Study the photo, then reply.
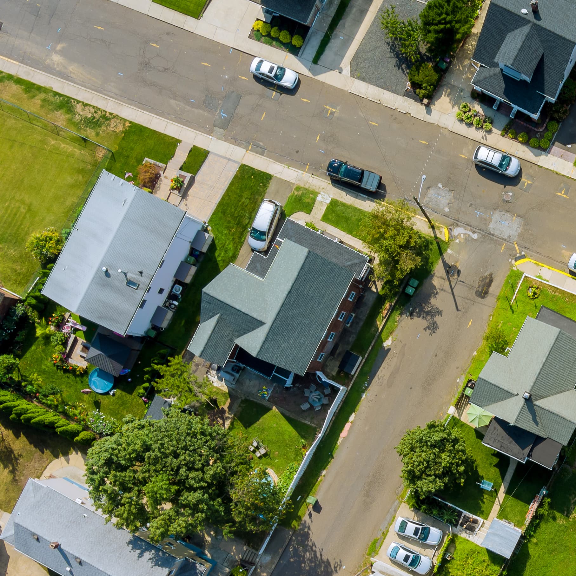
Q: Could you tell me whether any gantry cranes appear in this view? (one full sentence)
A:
No, the scene contains no gantry crane.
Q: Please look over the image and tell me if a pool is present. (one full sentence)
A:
Yes, the photo shows a pool.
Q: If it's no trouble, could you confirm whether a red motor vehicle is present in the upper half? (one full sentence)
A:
No, there's no red motor vehicle to be seen in the upper half.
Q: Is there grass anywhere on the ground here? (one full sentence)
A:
Yes, the picture does contain grass.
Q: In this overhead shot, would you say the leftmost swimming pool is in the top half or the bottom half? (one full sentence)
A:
The leftmost swimming pool is in the bottom half of the image.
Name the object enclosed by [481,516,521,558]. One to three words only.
shed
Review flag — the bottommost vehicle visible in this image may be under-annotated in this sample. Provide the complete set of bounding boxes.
[384,540,434,572]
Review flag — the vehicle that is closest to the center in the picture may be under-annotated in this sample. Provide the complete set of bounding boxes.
[246,196,284,251]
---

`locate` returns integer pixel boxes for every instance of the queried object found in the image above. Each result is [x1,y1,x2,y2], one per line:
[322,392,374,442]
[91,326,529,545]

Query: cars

[471,145,521,179]
[246,196,284,251]
[384,540,434,572]
[392,515,444,546]
[566,253,576,275]
[248,57,301,89]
